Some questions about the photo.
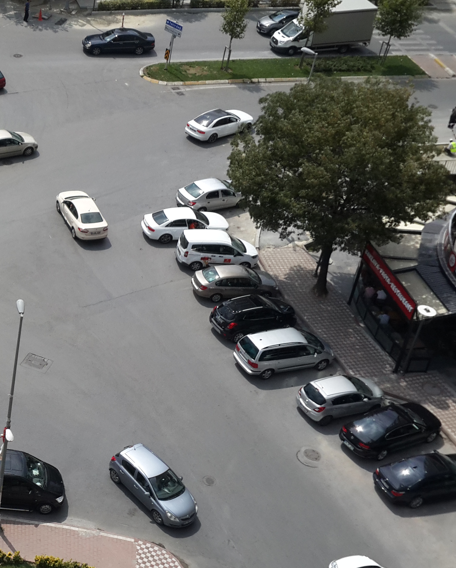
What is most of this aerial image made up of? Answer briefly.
paved ground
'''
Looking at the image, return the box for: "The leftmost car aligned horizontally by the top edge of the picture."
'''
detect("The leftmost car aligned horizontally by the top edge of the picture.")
[80,28,155,55]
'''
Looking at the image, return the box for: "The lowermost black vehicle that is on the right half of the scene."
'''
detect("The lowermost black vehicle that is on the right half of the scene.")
[370,446,456,510]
